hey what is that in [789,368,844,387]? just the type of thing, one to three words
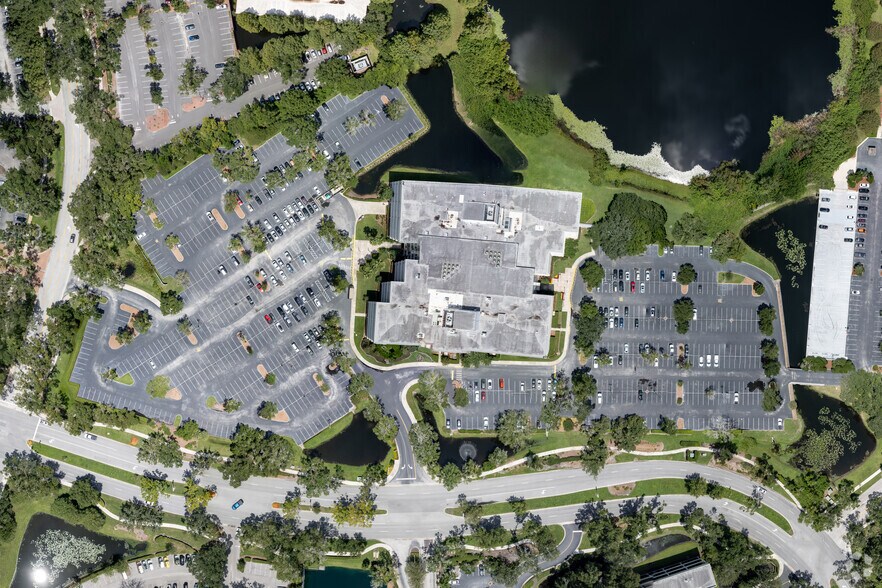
bridge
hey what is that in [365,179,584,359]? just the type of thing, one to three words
building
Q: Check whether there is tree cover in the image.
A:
Yes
